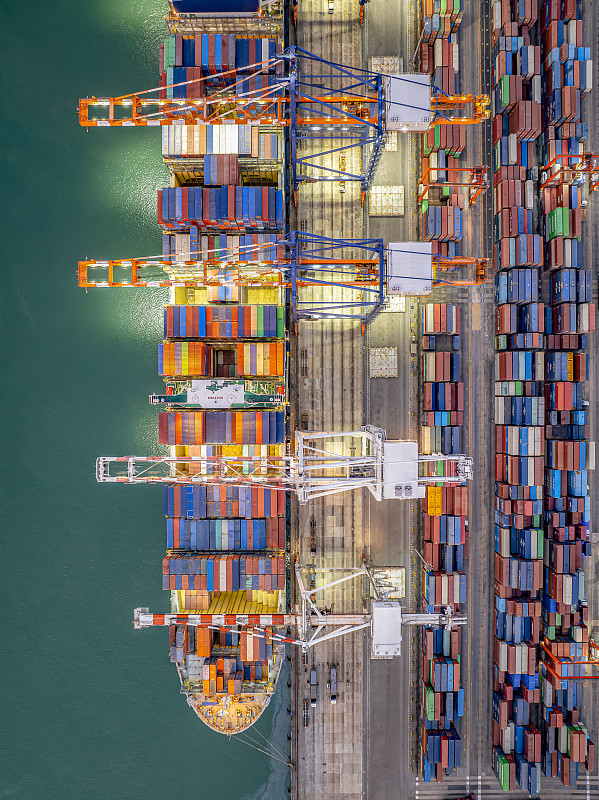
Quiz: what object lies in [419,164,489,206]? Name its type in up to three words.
container crane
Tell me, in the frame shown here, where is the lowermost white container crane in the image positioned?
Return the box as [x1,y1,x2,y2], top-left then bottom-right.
[131,551,469,655]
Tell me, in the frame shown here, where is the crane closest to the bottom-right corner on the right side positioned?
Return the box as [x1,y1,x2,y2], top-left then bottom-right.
[540,638,599,685]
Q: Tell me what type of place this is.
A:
port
